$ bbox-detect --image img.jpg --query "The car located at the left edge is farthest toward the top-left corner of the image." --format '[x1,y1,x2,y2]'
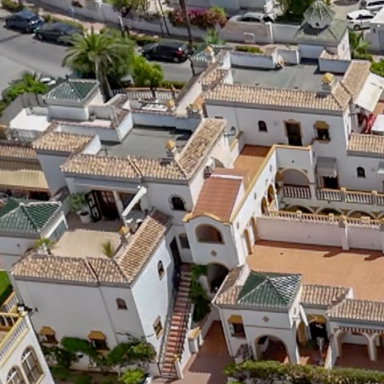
[0,7,45,31]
